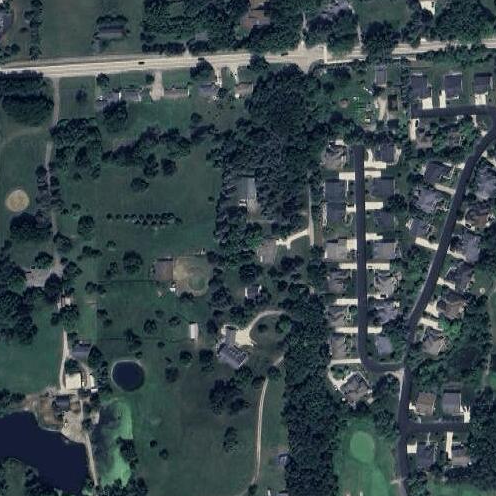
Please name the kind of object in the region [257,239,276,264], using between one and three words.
house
